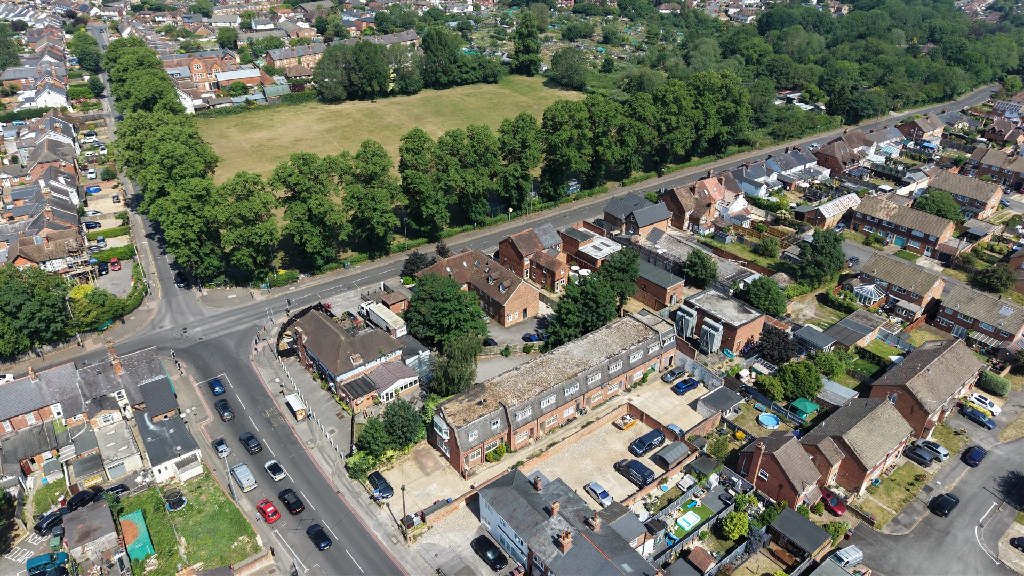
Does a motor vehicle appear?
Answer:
Yes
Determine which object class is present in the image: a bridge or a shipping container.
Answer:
shipping container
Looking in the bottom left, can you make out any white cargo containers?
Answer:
No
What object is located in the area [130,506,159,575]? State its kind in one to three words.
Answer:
shipping container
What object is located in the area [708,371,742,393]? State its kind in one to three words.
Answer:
shed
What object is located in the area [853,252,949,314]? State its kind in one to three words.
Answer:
house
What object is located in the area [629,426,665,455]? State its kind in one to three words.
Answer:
van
